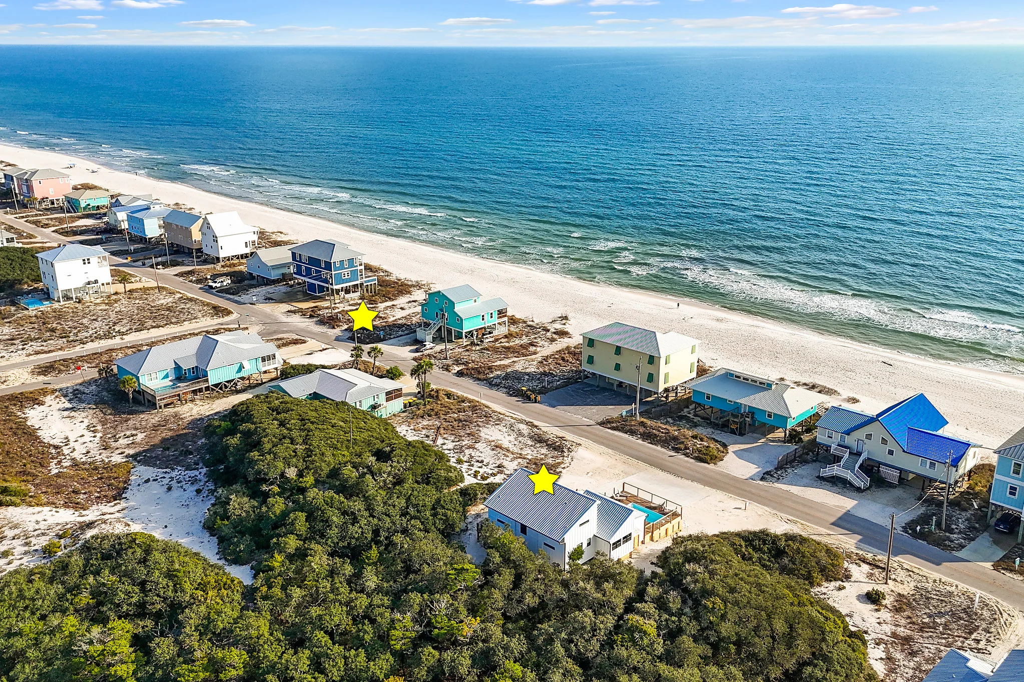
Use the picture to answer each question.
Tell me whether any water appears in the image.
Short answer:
Yes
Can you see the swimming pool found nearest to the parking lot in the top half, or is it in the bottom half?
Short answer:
bottom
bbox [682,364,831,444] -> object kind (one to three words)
house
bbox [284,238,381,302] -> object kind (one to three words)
house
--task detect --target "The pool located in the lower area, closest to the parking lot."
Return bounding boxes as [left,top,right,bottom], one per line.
[625,502,661,523]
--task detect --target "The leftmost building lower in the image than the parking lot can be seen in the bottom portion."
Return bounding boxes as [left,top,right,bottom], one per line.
[484,462,683,568]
